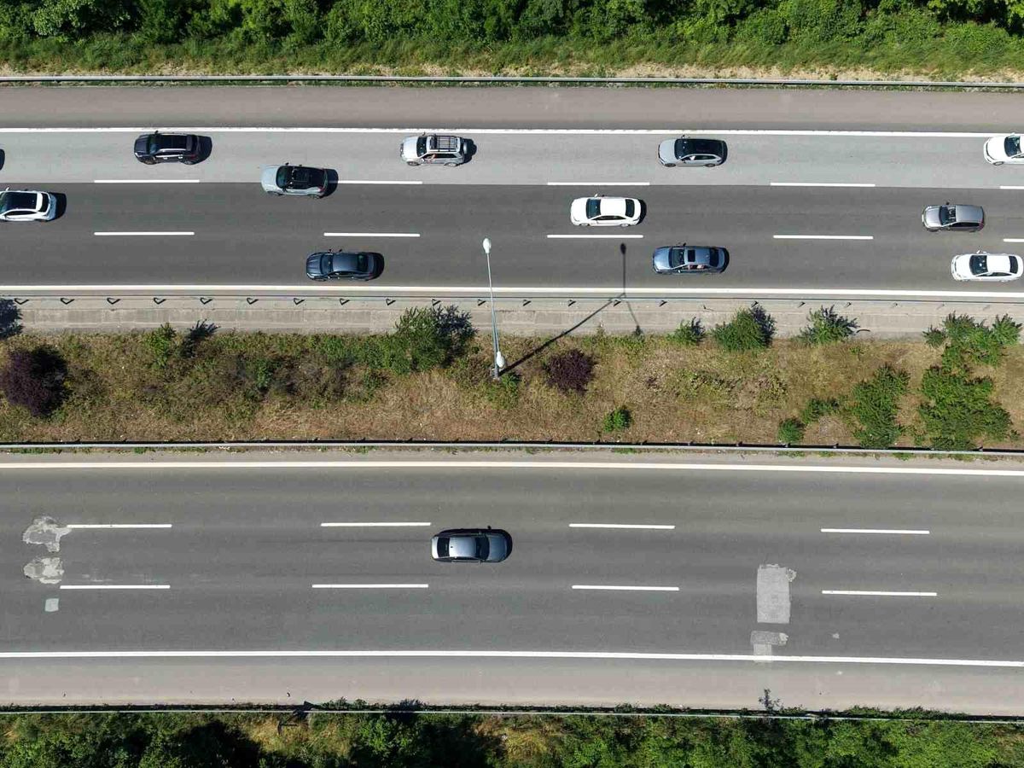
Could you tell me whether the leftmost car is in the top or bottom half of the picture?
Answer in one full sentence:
Seen from above, the leftmost car lies in the top half of the view.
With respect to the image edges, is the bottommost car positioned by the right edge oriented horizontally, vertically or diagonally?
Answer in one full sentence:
Seen from above, the bottommost car positioned by the right edge lies horizontally.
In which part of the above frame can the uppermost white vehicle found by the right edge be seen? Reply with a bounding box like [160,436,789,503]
[982,129,1024,165]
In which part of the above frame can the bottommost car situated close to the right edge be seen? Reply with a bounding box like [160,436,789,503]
[950,246,1023,282]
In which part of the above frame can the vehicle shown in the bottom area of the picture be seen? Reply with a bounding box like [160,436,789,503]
[432,528,507,567]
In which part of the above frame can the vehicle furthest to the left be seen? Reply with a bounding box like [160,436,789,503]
[0,184,60,221]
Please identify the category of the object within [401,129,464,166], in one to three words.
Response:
car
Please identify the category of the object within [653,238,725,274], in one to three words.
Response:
car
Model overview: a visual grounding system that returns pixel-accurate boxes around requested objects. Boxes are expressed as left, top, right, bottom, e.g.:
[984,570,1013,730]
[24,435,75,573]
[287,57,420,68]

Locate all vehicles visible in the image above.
[982,129,1024,165]
[401,129,464,166]
[262,161,328,198]
[921,196,987,231]
[658,130,726,166]
[653,238,725,274]
[571,191,640,226]
[950,246,1023,282]
[432,528,507,567]
[308,245,376,281]
[0,184,60,221]
[135,127,201,164]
